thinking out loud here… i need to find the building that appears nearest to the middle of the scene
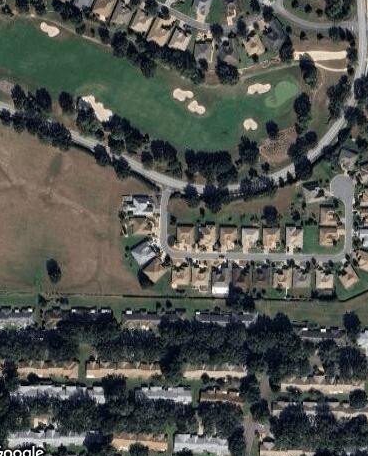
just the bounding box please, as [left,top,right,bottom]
[178,224,195,251]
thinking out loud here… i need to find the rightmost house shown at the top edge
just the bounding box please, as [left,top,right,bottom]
[259,19,291,46]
